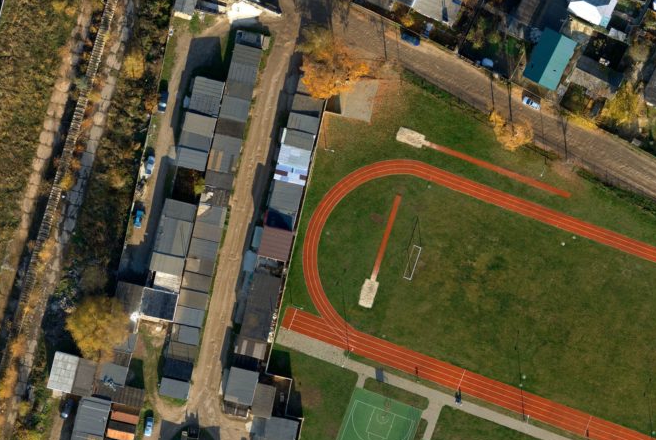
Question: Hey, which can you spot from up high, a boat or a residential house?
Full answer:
There is a residential house in the scene.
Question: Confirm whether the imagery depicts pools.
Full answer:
No, this view has no pool in it.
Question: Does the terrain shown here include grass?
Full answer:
Yes, grass shows up in the scene.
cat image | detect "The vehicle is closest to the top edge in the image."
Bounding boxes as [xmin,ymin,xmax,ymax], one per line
[402,32,420,44]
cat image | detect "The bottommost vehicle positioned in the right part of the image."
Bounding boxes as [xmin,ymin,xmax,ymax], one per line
[520,95,540,109]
